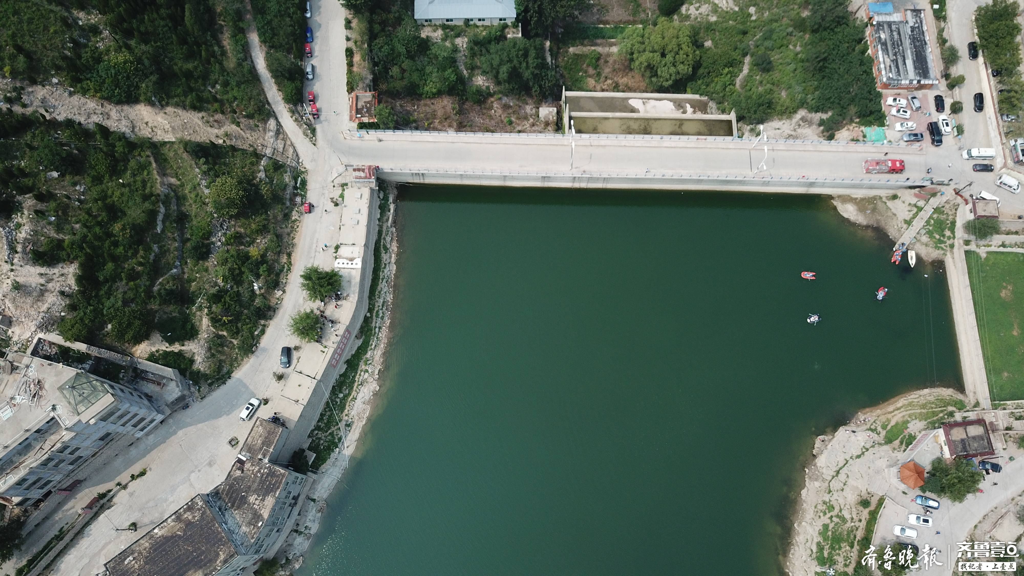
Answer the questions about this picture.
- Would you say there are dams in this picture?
Yes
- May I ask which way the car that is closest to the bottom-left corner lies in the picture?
at an angle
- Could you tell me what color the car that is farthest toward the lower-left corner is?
white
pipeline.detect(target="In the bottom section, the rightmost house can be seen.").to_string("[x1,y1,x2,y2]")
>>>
[939,420,994,459]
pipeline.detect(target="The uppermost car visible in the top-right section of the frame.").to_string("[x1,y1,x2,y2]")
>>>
[966,42,979,61]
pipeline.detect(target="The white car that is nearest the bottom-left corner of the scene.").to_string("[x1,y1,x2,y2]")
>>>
[239,398,262,422]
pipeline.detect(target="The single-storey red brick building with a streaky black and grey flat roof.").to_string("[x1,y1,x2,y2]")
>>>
[871,9,939,90]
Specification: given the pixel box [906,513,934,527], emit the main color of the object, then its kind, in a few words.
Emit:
white car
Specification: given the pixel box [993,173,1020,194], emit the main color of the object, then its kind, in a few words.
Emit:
white vehicle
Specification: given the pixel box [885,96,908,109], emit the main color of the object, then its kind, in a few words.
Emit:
white vehicle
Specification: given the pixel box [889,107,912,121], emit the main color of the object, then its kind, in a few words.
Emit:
white car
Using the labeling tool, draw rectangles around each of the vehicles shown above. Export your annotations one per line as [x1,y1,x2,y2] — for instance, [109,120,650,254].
[896,541,922,557]
[889,107,912,121]
[307,89,316,107]
[966,42,979,61]
[937,116,952,136]
[976,458,1004,475]
[305,25,314,44]
[239,398,262,422]
[303,0,313,19]
[962,147,997,161]
[304,41,314,59]
[971,163,994,173]
[279,346,292,370]
[303,198,313,217]
[927,122,942,144]
[914,494,942,512]
[902,132,925,142]
[891,524,919,541]
[894,122,917,132]
[310,102,320,120]
[933,95,945,114]
[885,96,908,109]
[993,173,1020,194]
[906,513,934,527]
[305,62,315,82]
[1007,137,1024,148]
[977,188,1000,208]
[906,95,922,113]
[973,93,985,113]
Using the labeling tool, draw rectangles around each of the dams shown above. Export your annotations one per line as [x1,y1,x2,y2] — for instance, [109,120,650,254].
[368,130,932,198]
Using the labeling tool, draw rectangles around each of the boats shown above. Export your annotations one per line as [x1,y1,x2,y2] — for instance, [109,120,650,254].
[908,250,916,268]
[806,313,824,323]
[875,286,888,303]
[891,250,902,266]
[800,272,818,279]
